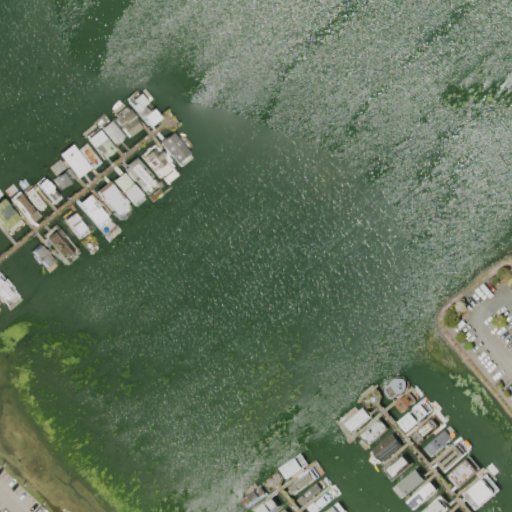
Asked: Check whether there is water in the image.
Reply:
Yes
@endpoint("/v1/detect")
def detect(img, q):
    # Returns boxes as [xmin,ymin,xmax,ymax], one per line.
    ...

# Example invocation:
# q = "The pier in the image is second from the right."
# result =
[258,468,332,512]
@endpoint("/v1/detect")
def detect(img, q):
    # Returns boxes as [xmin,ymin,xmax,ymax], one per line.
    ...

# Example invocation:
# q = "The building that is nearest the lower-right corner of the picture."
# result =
[462,467,502,512]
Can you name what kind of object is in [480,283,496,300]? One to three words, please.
vehicle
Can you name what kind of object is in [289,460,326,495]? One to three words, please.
house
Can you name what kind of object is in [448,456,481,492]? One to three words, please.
house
